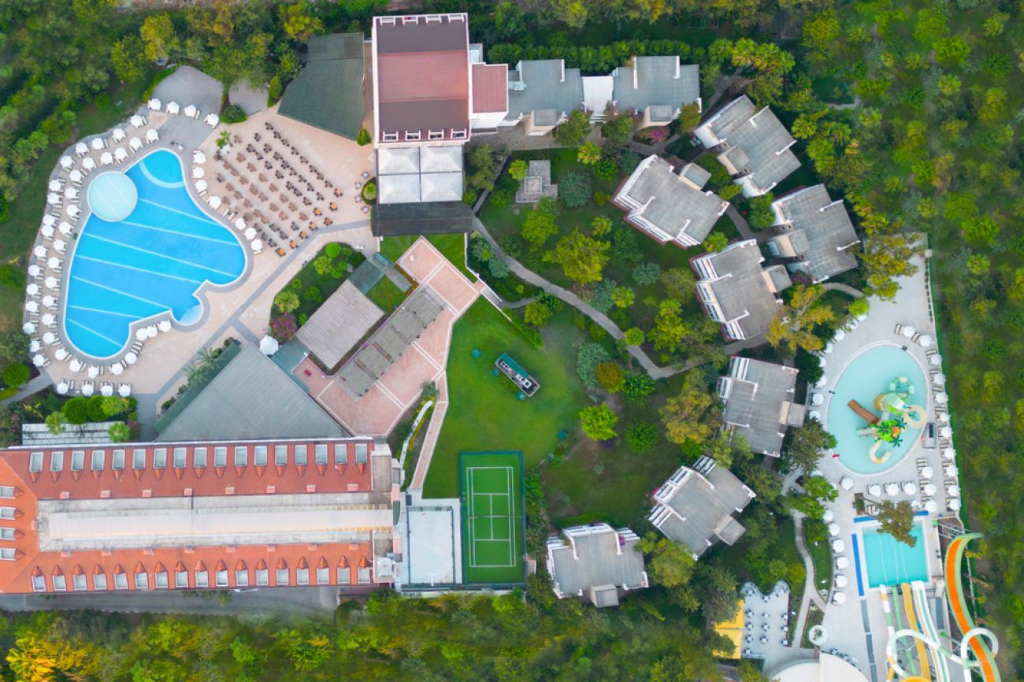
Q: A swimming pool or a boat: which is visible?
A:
swimming pool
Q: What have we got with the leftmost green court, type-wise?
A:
tennis court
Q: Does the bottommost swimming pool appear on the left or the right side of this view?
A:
right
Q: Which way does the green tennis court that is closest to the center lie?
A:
up and down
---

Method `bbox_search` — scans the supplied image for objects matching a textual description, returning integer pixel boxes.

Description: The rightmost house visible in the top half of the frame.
[768,184,863,287]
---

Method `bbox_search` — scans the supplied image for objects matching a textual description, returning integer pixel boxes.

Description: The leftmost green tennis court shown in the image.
[459,451,526,589]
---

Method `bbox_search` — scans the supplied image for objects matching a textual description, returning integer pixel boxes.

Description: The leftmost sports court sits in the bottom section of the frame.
[406,506,456,587]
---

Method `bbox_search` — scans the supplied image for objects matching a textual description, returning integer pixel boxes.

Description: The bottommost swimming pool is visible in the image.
[856,515,935,594]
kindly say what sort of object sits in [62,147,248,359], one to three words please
swimming pool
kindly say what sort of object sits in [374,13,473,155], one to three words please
building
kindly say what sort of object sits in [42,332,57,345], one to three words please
umbrella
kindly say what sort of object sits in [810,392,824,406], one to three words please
umbrella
